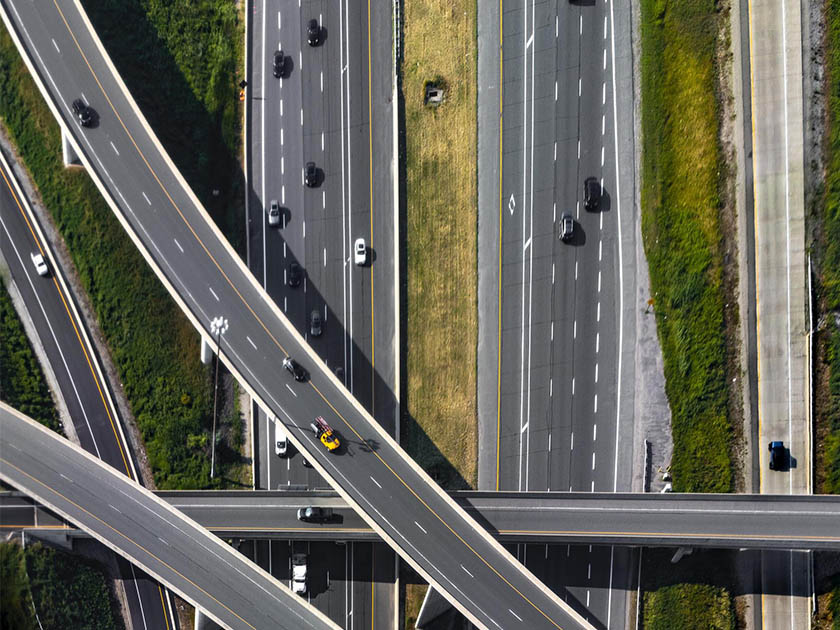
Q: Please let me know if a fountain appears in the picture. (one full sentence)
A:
No, I can see no fountain in this picture.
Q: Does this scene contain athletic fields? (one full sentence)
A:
No, I can't see a single athletic field in this photo.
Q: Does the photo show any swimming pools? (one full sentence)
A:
No, I can't see a single swimming pool in this photo.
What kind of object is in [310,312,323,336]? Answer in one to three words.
vehicle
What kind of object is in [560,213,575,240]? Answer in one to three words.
car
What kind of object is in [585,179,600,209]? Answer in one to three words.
car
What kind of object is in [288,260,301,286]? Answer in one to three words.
vehicle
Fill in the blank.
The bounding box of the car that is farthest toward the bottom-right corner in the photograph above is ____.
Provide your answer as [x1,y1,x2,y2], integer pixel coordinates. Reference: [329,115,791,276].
[769,441,786,471]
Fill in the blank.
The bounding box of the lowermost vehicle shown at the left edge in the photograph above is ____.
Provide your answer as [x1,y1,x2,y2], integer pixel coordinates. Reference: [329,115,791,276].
[30,248,48,277]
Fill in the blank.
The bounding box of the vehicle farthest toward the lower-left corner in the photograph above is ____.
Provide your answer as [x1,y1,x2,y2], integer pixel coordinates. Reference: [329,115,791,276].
[293,555,307,591]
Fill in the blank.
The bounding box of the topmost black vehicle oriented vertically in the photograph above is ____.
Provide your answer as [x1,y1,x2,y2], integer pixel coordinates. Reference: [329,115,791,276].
[307,20,320,46]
